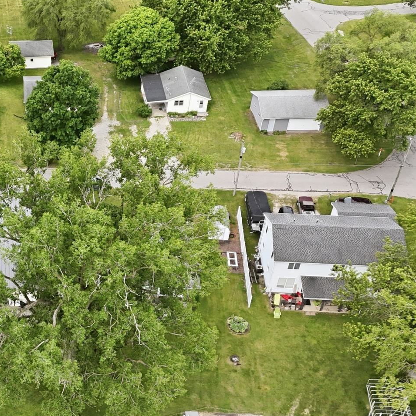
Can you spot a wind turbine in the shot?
No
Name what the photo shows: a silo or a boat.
boat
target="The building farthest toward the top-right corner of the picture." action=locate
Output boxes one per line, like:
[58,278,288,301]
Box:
[250,90,332,130]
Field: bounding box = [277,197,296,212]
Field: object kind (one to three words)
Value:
car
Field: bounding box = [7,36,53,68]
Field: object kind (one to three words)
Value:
shed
